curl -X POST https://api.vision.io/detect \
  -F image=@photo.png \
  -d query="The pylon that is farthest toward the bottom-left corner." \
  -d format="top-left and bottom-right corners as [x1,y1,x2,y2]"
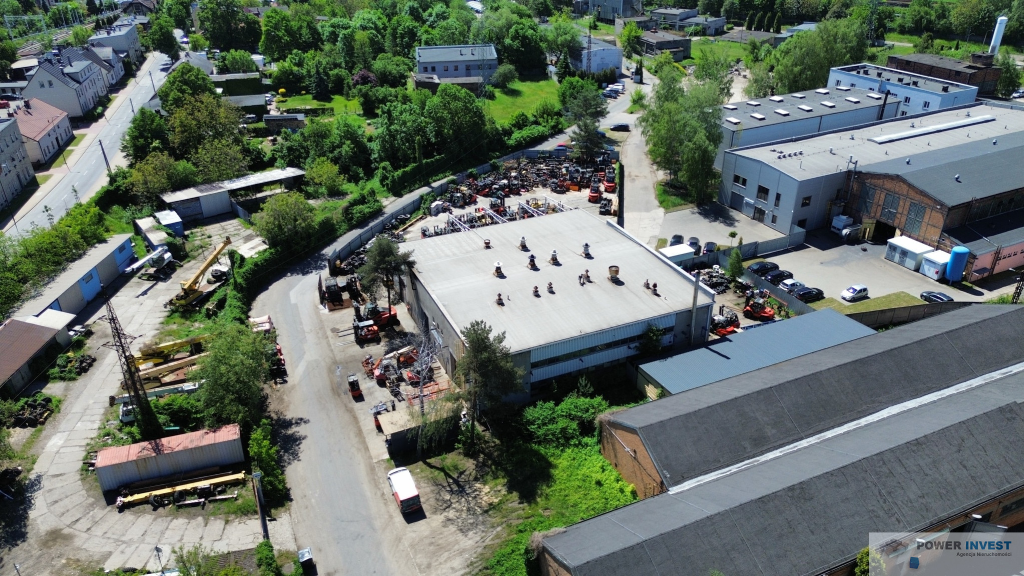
[75,285,164,446]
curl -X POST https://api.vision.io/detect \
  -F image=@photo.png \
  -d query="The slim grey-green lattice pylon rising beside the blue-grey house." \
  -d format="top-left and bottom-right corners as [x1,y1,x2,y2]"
[466,0,497,105]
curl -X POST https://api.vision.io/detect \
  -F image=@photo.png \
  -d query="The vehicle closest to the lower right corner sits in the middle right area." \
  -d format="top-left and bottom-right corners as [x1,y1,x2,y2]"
[917,288,959,303]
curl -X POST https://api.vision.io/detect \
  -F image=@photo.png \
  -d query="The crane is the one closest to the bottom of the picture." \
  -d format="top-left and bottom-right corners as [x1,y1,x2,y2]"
[111,381,211,439]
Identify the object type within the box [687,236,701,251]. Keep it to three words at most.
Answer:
car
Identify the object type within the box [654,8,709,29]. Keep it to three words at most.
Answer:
shed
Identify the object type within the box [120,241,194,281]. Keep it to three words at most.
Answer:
crane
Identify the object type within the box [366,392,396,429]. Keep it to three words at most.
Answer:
work vehicle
